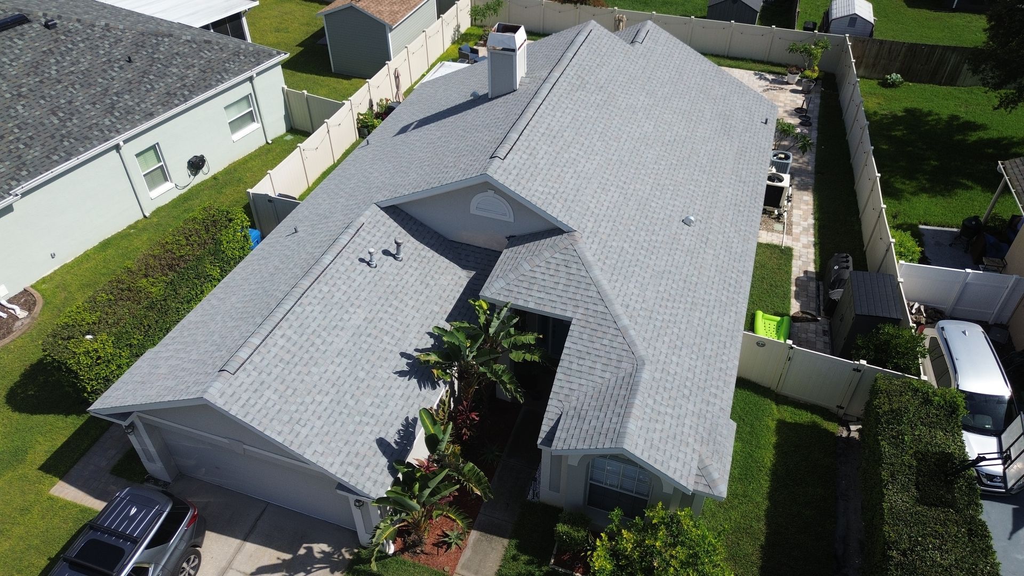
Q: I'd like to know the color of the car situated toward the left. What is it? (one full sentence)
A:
In this view, the car situated toward the left is black.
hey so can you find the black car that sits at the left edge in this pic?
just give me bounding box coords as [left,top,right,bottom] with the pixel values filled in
[48,490,208,576]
